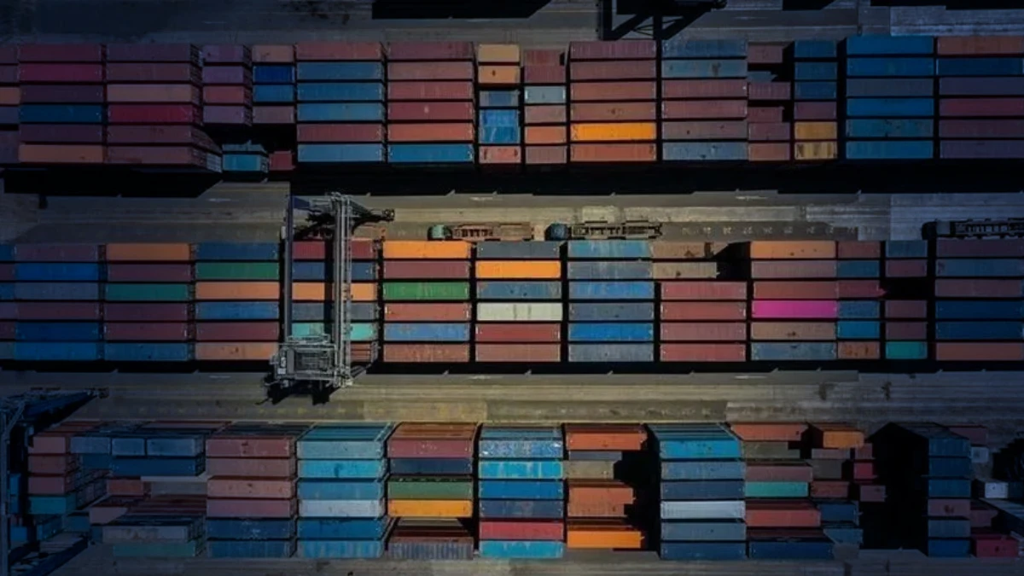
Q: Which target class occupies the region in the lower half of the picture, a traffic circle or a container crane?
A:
container crane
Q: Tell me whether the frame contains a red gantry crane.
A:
No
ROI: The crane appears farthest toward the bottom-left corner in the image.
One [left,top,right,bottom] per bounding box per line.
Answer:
[0,383,112,576]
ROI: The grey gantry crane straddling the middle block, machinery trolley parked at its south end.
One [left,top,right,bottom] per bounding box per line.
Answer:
[261,195,398,394]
